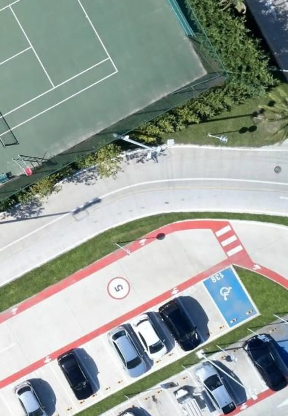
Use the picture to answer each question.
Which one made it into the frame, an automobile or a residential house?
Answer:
automobile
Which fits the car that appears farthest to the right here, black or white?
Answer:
black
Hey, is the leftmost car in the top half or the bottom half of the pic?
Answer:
bottom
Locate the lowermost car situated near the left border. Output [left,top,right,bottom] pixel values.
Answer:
[12,377,48,416]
